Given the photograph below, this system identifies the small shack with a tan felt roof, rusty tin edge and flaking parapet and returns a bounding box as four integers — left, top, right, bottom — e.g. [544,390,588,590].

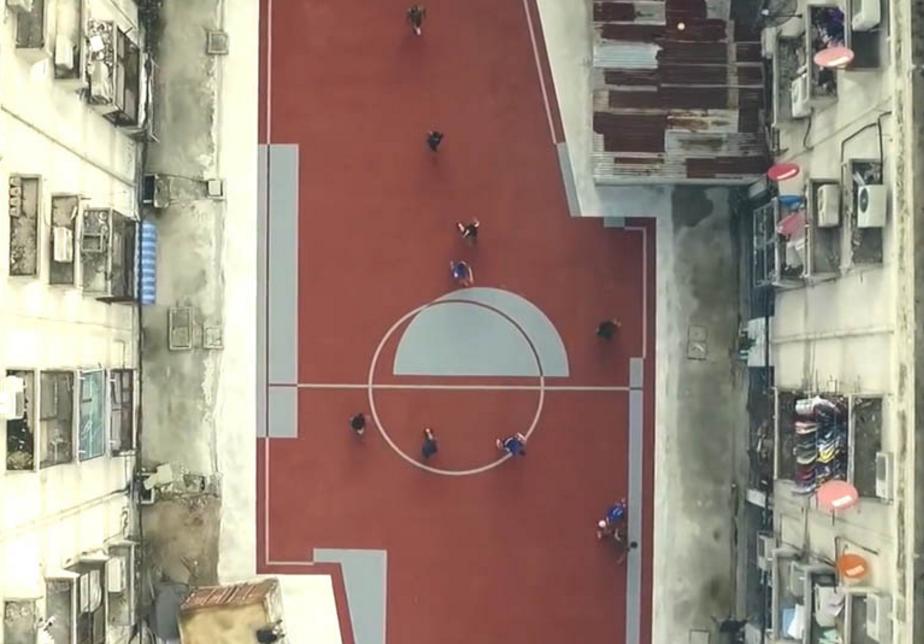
[181,575,294,644]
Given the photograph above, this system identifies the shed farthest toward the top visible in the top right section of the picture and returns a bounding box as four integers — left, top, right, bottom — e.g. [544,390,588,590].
[587,0,774,192]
